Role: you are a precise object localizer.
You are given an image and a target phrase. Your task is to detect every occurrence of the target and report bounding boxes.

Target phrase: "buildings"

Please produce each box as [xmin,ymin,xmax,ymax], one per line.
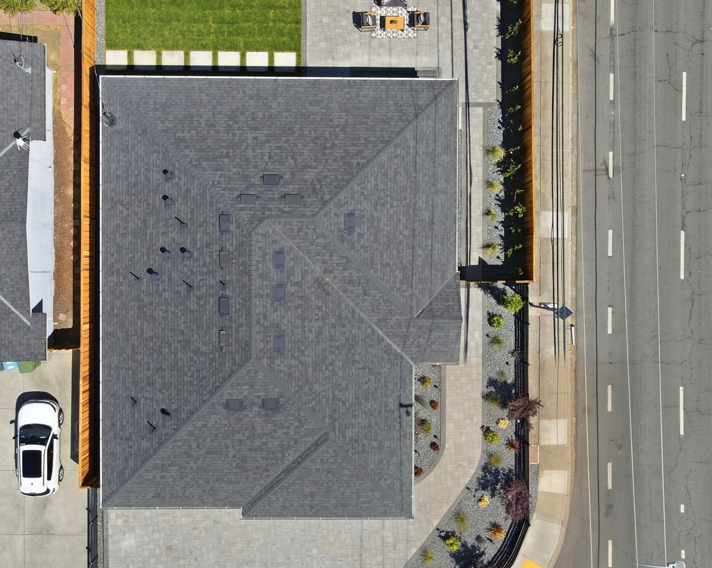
[98,74,464,521]
[0,37,66,362]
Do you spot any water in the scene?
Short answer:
No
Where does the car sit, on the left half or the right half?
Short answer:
left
